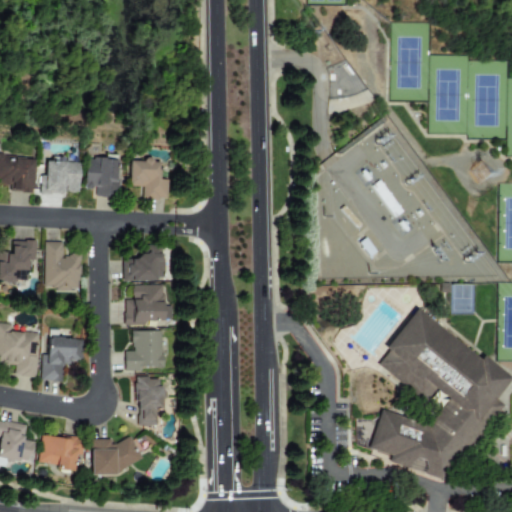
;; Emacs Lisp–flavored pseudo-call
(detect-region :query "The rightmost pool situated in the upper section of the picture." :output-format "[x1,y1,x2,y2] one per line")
[148,150,170,162]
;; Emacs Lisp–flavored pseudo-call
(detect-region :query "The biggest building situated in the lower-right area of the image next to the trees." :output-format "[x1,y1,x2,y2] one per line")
[364,306,512,484]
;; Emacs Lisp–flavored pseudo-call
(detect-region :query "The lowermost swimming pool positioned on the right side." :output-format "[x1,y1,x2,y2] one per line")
[353,301,401,355]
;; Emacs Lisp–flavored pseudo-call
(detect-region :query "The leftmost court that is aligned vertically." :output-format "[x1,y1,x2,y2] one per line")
[392,22,430,100]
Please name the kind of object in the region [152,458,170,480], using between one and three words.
swimming pool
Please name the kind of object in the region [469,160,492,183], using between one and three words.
gazebo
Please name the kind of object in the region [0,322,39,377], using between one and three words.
house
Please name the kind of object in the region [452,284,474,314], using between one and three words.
sports court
